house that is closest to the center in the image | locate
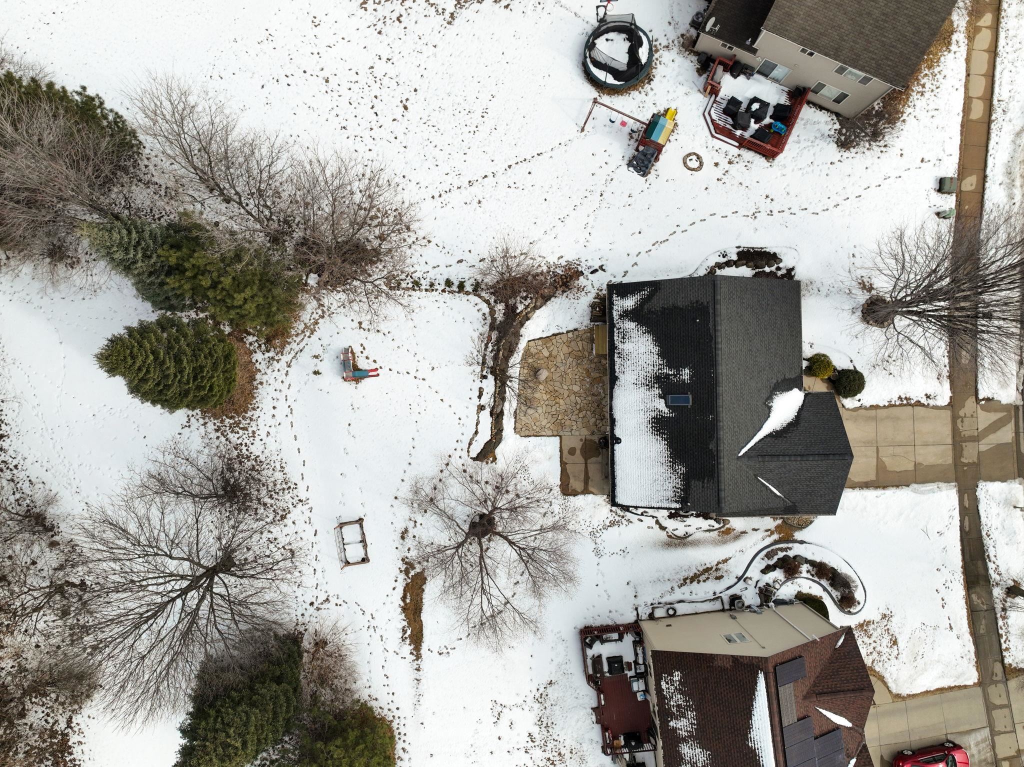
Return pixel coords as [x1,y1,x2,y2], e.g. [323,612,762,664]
[602,275,857,517]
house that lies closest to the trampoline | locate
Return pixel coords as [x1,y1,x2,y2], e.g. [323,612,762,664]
[694,0,957,119]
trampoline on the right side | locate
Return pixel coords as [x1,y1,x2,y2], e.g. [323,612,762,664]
[584,13,653,92]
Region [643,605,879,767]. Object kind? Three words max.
house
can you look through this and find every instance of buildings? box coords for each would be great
[643,605,879,767]
[694,0,957,119]
[602,275,857,517]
